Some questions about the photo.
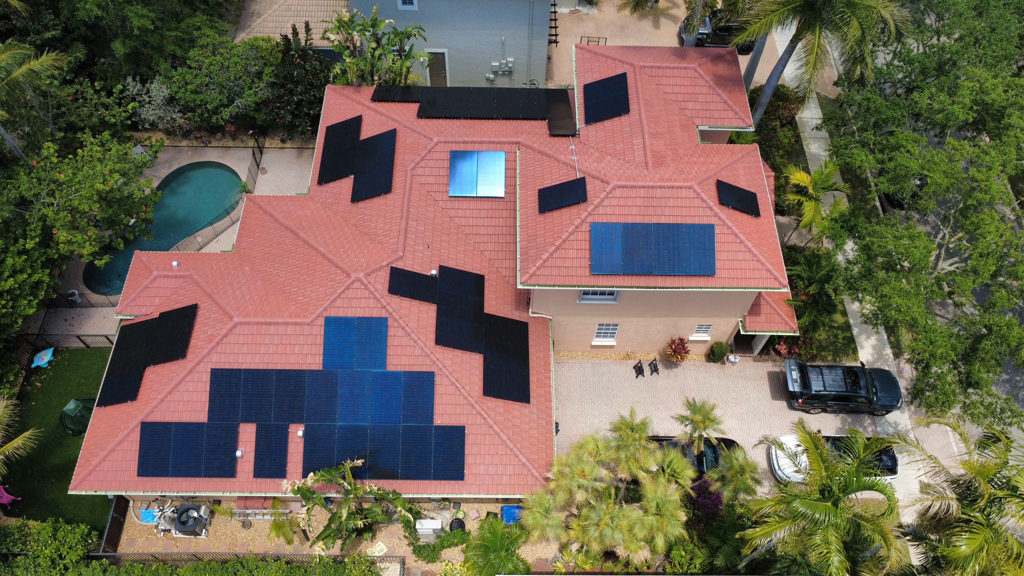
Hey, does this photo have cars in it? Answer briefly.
Yes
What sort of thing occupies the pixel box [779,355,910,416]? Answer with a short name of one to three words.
car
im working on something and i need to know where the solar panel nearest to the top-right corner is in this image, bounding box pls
[718,178,762,216]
